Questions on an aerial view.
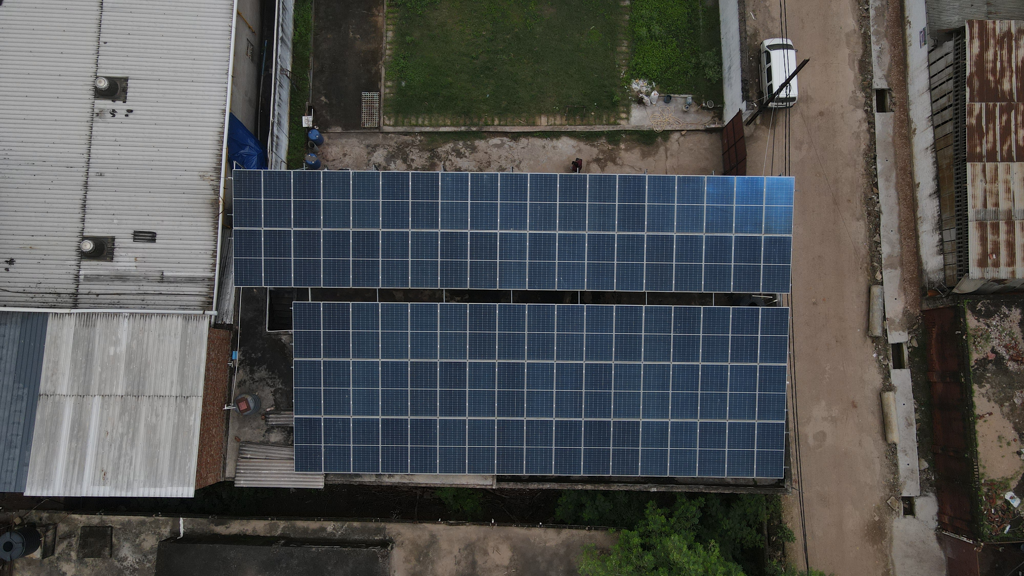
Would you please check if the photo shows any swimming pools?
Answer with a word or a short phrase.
No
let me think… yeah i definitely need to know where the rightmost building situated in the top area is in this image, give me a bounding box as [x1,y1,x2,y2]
[909,0,1024,293]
